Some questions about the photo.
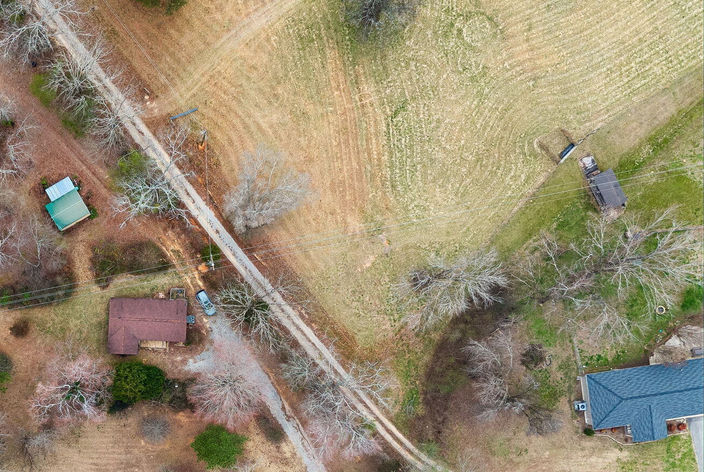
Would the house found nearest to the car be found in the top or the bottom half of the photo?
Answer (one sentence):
The house found nearest to the car sits in the bottom half of the picture.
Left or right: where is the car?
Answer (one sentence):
You can find the car on the left side of the picture.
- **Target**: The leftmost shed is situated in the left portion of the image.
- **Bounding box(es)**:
[40,178,90,231]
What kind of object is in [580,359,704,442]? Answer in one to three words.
house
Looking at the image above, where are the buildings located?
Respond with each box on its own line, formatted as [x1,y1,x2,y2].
[580,168,626,212]
[108,298,188,356]
[580,359,704,442]
[40,178,90,231]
